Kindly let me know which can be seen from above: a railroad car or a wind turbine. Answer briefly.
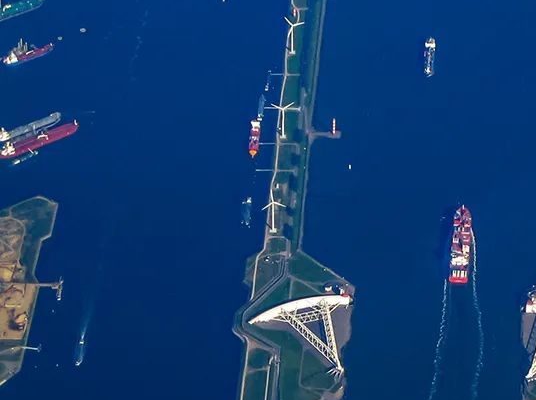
wind turbine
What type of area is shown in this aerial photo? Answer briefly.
port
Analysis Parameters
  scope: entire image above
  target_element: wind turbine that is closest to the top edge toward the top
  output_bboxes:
[285,19,307,54]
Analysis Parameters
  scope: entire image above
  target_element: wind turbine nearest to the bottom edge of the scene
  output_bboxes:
[262,194,287,232]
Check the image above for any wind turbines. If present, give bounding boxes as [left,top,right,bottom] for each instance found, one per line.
[262,194,287,232]
[285,19,307,54]
[272,105,295,139]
